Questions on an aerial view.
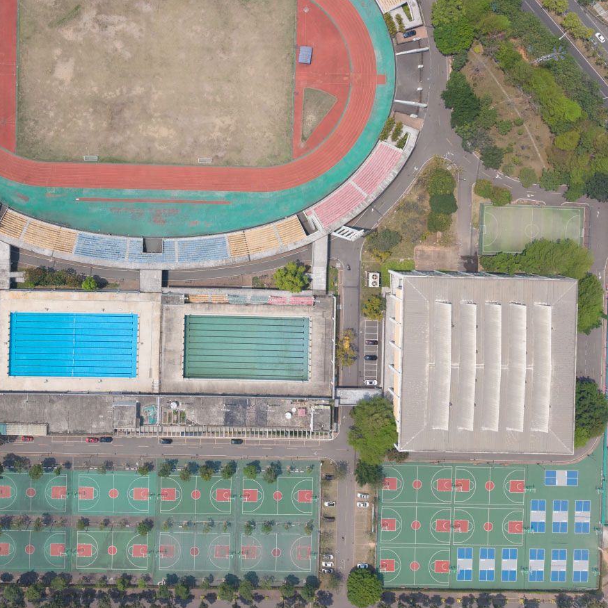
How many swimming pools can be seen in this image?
2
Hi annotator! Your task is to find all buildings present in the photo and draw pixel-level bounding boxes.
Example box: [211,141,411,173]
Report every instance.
[0,289,340,440]
[378,268,578,456]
